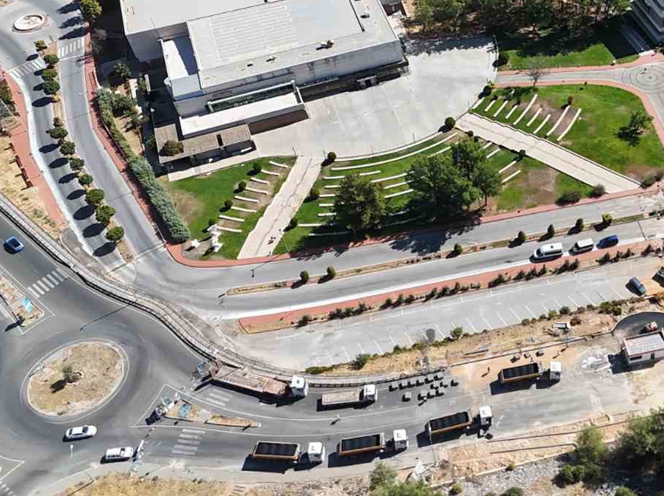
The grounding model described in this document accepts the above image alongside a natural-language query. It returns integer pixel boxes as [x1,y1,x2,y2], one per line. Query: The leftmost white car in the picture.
[63,424,99,441]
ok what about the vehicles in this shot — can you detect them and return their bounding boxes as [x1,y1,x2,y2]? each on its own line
[426,405,494,441]
[3,238,24,253]
[192,357,314,401]
[626,276,648,296]
[316,381,379,412]
[654,268,664,280]
[63,424,99,441]
[497,357,563,390]
[335,429,409,462]
[102,445,134,463]
[597,234,620,249]
[572,237,596,253]
[533,240,565,262]
[641,319,658,333]
[247,442,327,470]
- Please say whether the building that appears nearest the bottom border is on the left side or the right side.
right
